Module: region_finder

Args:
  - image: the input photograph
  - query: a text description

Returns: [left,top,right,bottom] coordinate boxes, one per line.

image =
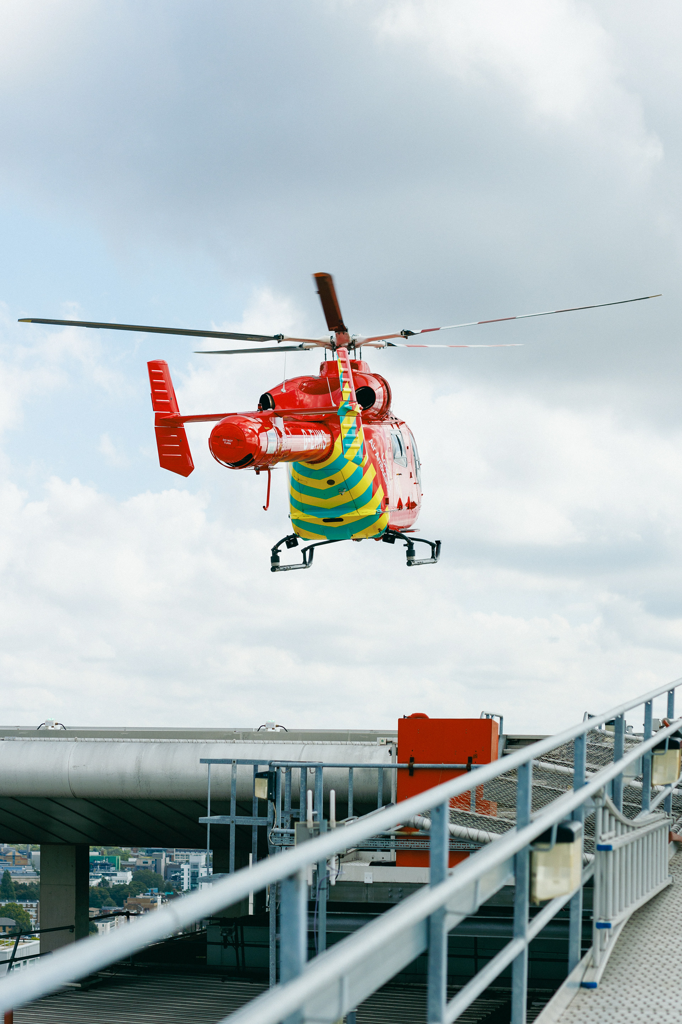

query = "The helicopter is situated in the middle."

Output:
[17,273,661,571]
